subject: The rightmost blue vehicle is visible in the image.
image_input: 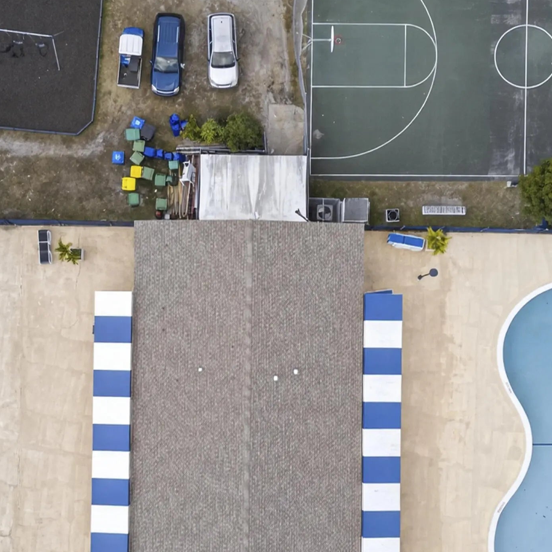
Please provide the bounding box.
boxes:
[147,9,186,97]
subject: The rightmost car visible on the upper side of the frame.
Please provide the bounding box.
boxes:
[205,11,242,90]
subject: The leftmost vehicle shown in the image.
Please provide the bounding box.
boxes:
[115,25,147,91]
